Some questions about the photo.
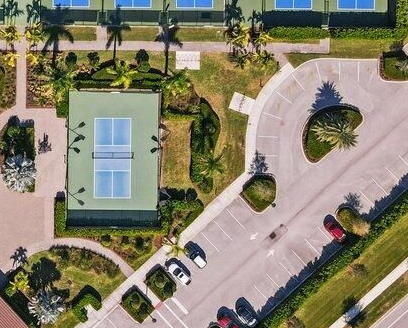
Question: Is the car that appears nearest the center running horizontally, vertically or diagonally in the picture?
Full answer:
From this overhead view, the car that appears nearest the center appears to run diagonally.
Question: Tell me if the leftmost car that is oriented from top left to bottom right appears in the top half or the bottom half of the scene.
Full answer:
Seen from above, the leftmost car that is oriented from top left to bottom right lies in the bottom half of the view.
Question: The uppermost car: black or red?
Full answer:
The uppermost car is red.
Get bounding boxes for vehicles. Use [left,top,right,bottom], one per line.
[234,302,262,328]
[321,217,348,244]
[165,260,193,287]
[184,247,209,272]
[217,312,241,328]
